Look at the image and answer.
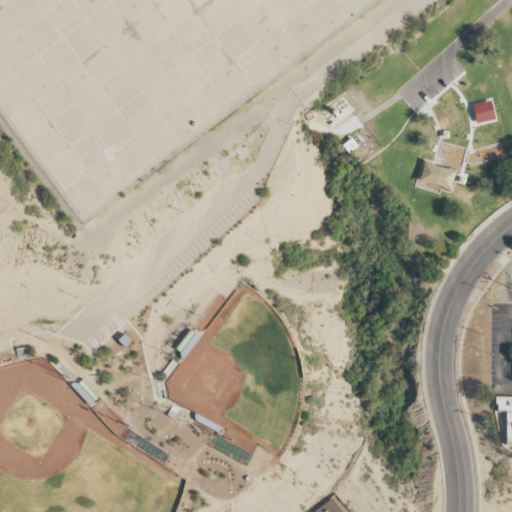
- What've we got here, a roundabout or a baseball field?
baseball field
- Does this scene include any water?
Yes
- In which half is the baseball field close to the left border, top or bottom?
bottom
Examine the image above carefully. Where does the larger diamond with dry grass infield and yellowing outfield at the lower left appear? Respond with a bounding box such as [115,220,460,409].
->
[0,358,183,512]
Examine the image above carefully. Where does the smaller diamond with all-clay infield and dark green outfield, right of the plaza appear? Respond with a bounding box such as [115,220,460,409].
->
[166,286,302,455]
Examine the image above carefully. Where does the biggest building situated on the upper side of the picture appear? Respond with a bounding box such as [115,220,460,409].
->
[418,159,458,192]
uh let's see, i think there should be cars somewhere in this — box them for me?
[419,92,428,102]
[438,78,447,88]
